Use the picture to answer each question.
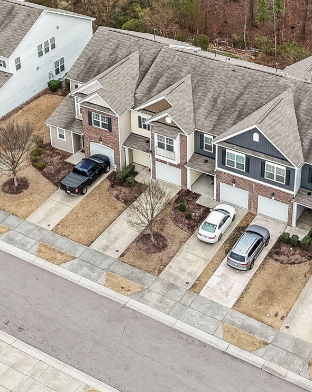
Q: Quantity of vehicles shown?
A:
3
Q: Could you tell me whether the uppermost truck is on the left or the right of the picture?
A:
left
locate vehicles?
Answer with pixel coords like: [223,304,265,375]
[195,202,237,243]
[60,152,113,194]
[227,222,272,268]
